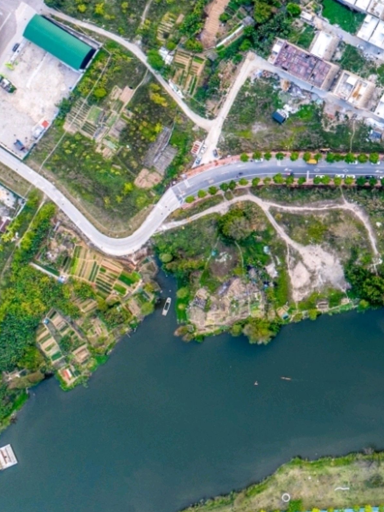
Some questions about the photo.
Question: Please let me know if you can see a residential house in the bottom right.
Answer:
No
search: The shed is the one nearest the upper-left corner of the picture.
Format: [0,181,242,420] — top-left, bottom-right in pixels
[21,15,100,70]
